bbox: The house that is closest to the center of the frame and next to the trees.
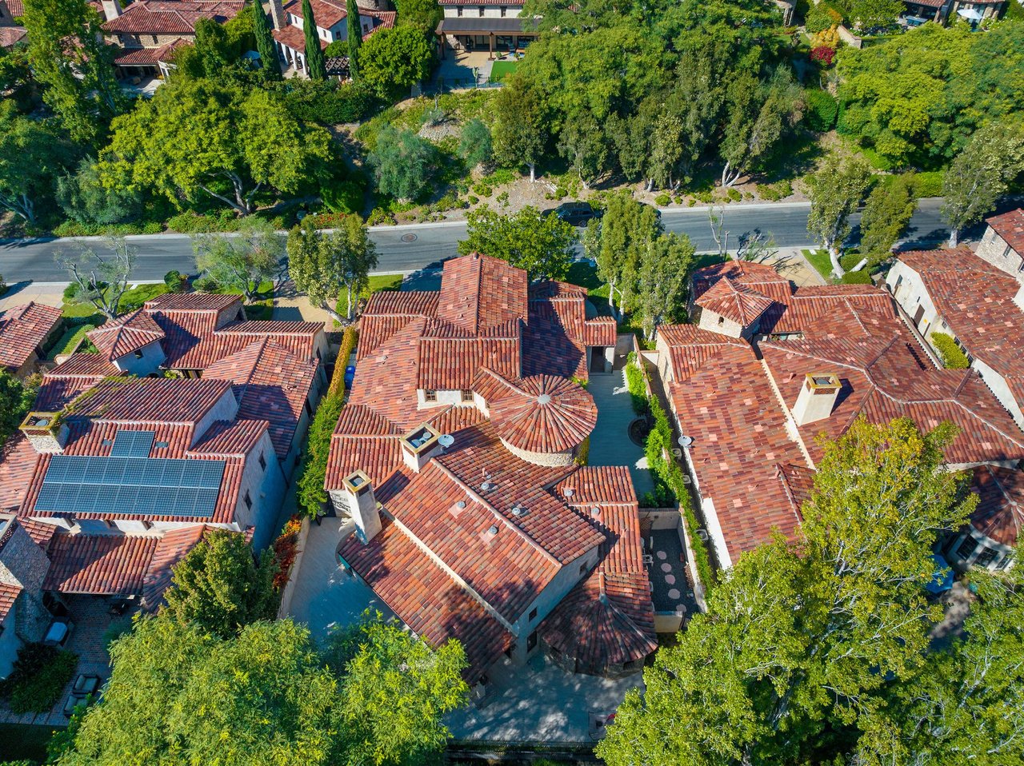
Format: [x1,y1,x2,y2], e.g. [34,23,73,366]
[324,252,661,703]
